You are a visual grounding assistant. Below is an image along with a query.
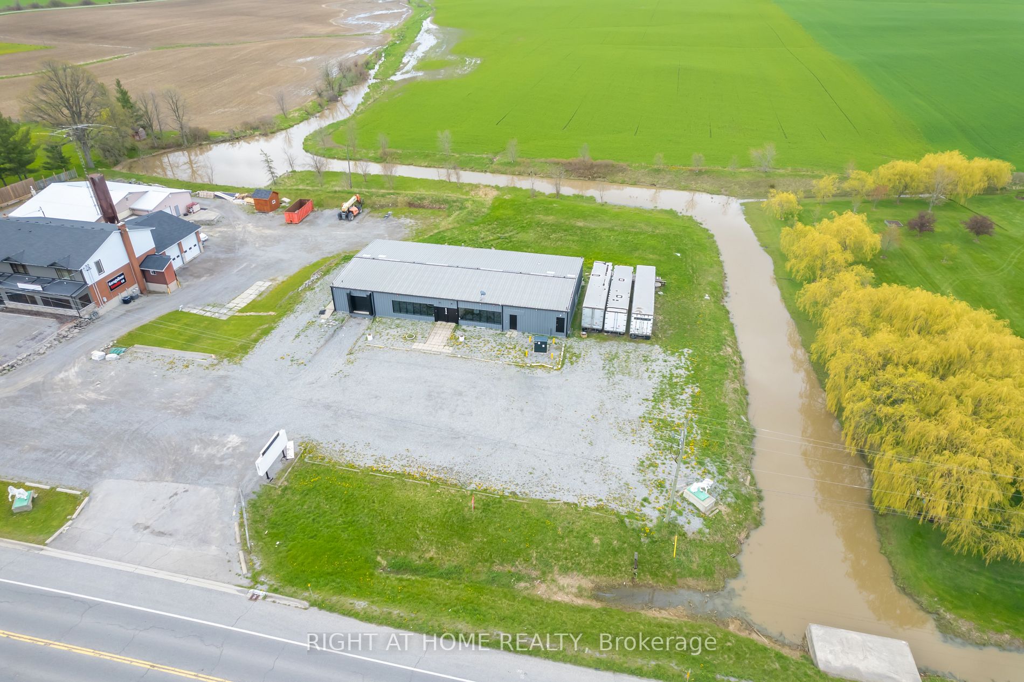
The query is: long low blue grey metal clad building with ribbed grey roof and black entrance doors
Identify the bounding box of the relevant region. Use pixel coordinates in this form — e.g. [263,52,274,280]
[328,239,585,338]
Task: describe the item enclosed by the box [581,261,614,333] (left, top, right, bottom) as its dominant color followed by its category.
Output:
white trailer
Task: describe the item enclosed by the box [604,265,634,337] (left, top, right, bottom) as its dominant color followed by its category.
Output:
white trailer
